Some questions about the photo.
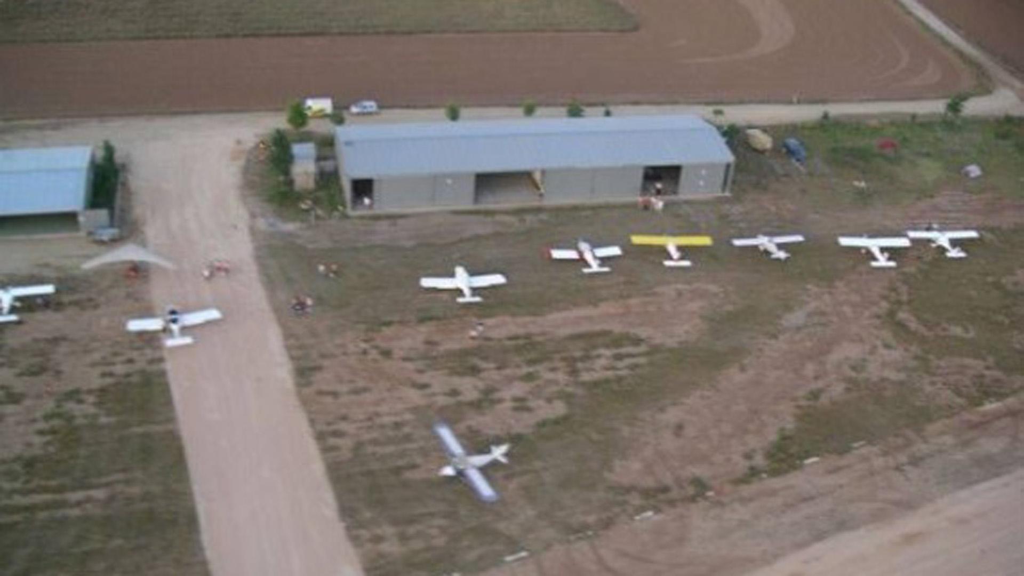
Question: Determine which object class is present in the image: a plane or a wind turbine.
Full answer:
Of the two, only a plane appears.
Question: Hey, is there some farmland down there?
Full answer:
Yes, there's farmland in this view.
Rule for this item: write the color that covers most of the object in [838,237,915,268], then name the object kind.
white airplane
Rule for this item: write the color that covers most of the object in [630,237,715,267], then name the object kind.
yellow airplane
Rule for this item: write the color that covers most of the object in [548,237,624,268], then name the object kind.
white airplane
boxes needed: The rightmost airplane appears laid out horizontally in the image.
[907,229,982,258]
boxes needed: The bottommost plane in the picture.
[430,423,511,500]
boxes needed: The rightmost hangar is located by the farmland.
[333,113,737,214]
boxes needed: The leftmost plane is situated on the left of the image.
[0,283,61,320]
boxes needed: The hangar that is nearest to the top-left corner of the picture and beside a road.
[0,147,95,240]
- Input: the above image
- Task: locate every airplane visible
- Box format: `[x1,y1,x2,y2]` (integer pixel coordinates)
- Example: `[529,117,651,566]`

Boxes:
[80,246,174,282]
[548,237,624,268]
[419,267,507,301]
[907,229,982,258]
[430,423,511,500]
[0,283,61,320]
[838,237,915,268]
[630,237,715,267]
[124,304,223,343]
[732,235,806,260]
